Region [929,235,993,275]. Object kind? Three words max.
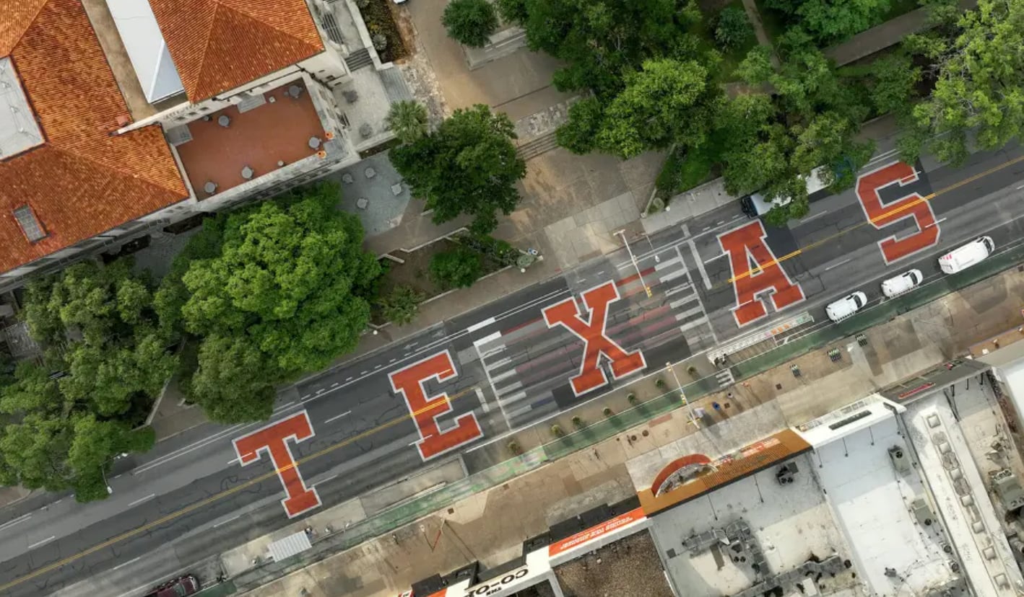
van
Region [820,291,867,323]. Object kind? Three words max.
van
